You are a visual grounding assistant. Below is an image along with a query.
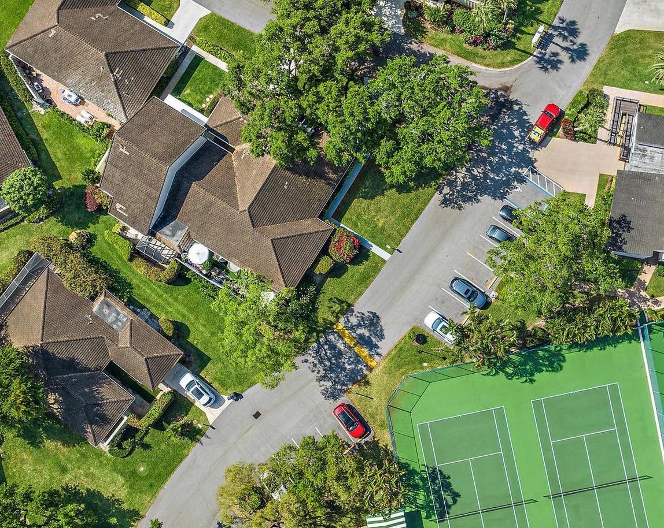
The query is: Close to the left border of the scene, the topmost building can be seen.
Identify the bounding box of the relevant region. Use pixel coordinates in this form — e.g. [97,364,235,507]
[4,0,181,123]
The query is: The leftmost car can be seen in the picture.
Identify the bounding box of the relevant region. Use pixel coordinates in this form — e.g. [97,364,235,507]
[178,374,215,405]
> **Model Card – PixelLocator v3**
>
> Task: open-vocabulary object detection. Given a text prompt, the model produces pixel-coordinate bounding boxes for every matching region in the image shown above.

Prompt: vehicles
[483,223,522,249]
[496,203,532,232]
[526,101,563,146]
[449,278,488,308]
[422,312,459,345]
[178,374,215,405]
[332,402,366,440]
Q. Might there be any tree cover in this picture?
Yes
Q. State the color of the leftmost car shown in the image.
white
